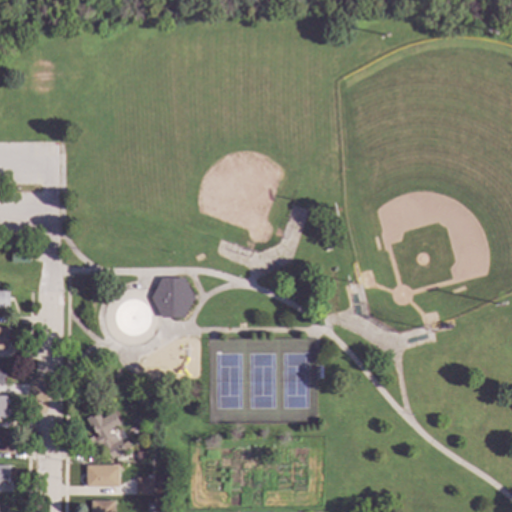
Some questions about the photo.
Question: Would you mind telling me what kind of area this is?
sports ground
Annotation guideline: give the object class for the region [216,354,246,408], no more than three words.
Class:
tennis court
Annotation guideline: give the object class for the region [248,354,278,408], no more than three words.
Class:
tennis court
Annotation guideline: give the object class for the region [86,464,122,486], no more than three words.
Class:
house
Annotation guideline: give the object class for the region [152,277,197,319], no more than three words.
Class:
building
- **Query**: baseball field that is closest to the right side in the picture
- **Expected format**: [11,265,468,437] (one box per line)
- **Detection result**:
[332,40,512,331]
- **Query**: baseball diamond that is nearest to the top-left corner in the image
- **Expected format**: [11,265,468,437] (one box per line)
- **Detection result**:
[69,30,337,248]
